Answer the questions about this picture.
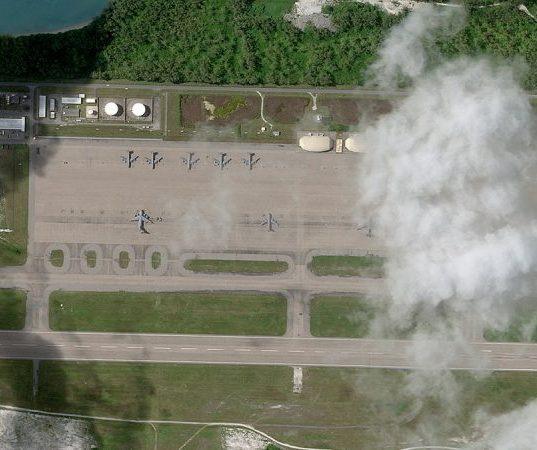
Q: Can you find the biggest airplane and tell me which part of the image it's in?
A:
left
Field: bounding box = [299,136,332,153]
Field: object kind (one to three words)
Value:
hangar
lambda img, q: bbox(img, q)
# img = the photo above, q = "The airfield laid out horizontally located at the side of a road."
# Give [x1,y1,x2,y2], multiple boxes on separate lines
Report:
[0,137,537,397]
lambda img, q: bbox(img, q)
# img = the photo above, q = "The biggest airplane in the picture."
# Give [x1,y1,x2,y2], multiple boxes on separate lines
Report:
[128,209,153,234]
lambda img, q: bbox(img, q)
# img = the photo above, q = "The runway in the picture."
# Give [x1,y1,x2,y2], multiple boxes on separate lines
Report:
[0,330,537,372]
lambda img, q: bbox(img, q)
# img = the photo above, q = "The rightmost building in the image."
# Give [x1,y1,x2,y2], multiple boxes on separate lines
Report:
[346,137,379,154]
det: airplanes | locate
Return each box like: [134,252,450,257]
[121,150,138,168]
[242,153,260,171]
[181,152,199,170]
[213,153,231,170]
[145,151,162,169]
[128,209,153,234]
[261,213,278,231]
